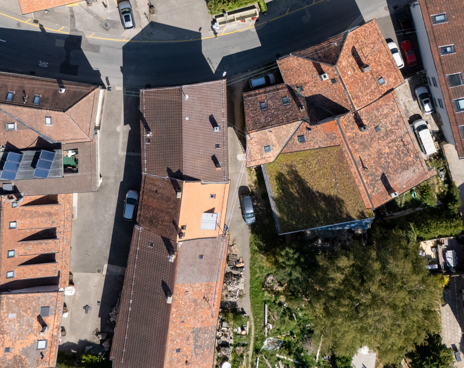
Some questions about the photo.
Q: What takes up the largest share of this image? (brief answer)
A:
buildings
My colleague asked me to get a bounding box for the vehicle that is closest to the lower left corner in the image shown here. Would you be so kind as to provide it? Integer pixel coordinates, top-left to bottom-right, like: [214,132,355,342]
[122,188,140,223]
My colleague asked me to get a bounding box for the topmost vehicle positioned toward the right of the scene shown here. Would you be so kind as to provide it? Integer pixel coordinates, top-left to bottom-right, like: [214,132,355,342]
[392,3,409,34]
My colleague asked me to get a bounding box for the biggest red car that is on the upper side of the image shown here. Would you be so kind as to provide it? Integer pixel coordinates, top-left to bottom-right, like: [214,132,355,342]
[400,41,420,74]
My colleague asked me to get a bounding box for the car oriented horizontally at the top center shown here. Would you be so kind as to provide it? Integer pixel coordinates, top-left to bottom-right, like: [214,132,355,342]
[248,73,277,90]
